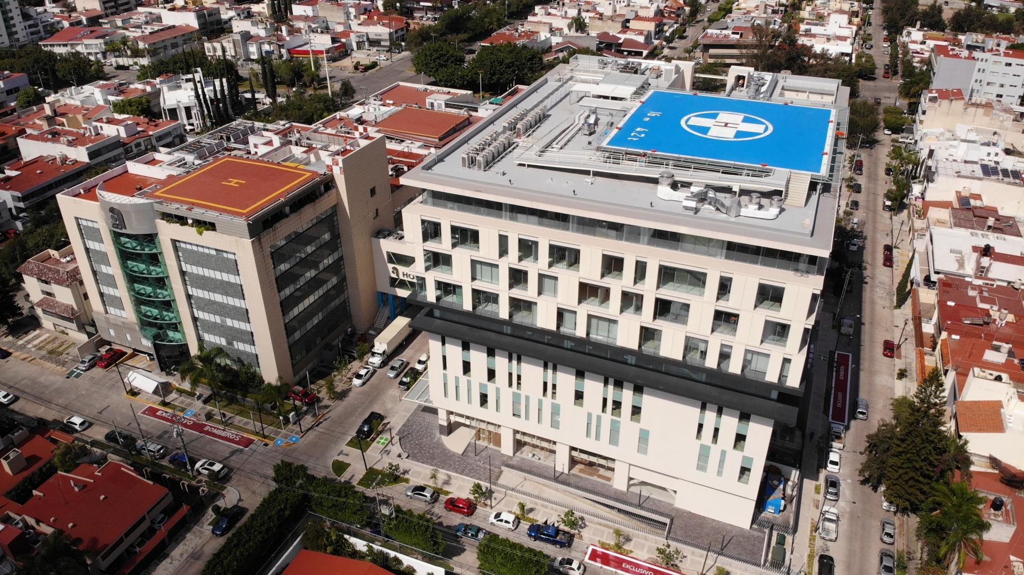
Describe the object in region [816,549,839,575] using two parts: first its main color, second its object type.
black car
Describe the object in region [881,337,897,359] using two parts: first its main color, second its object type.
red car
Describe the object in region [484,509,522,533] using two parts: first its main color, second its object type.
white car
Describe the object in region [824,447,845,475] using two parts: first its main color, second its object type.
white car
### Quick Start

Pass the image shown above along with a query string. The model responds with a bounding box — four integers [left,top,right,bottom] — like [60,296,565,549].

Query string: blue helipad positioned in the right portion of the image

[598,87,857,190]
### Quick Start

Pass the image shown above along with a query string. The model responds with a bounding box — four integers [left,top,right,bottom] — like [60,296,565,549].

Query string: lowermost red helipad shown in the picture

[139,154,325,238]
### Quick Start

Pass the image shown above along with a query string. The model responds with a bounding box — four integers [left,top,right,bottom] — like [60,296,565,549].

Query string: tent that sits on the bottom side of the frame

[125,369,176,406]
